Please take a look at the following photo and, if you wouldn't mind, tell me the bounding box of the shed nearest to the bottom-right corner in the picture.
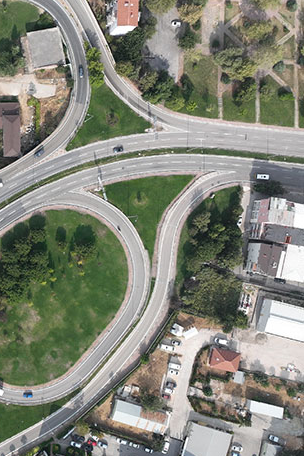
[256,438,283,456]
